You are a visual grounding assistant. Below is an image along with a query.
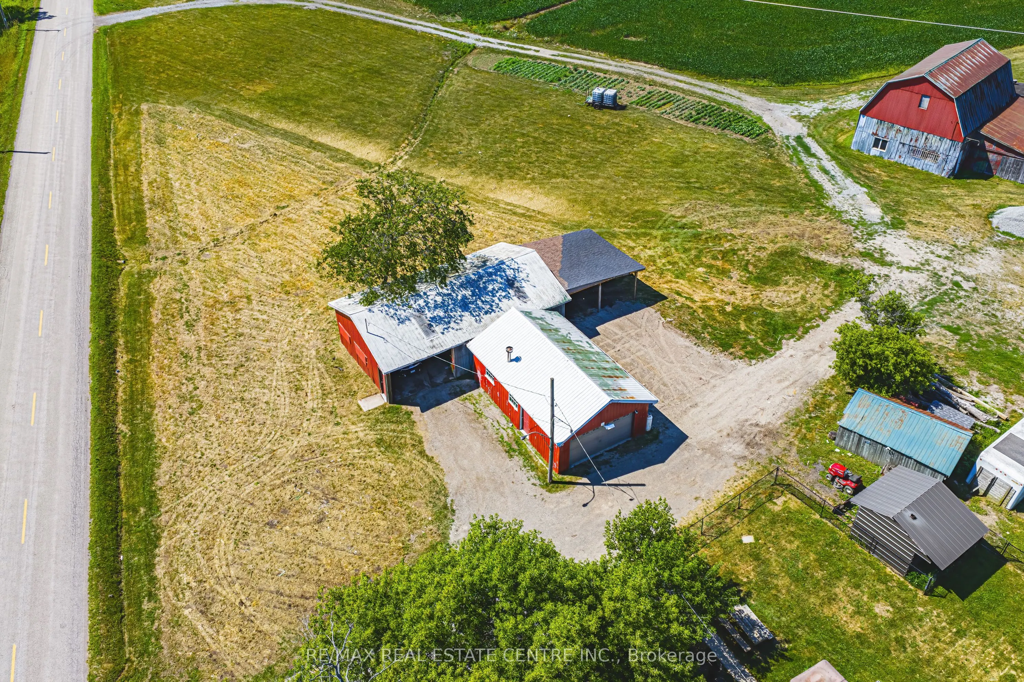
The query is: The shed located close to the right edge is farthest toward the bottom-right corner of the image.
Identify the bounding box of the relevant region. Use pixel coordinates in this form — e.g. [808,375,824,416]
[851,465,989,593]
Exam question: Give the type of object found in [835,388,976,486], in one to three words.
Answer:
shed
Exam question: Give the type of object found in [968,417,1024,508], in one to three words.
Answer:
trailer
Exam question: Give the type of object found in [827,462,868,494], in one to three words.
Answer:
work vehicle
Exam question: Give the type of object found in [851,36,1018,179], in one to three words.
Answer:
barn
